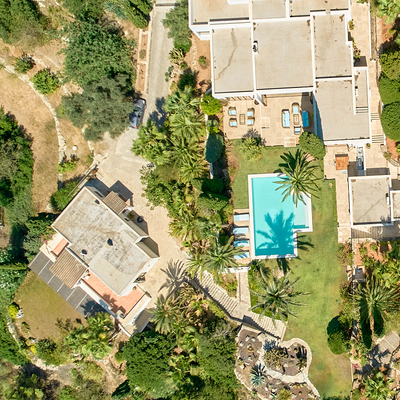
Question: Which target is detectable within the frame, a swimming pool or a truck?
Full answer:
It is a swimming pool that can be seen here.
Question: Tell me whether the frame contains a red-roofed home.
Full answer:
No, the photo shows no red-roofed home.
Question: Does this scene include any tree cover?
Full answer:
Yes, tree cover can be seen from above here.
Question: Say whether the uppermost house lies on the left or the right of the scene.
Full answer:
The uppermost house appears in the right half of the scene.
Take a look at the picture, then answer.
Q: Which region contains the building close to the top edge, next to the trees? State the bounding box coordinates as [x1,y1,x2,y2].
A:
[189,0,371,147]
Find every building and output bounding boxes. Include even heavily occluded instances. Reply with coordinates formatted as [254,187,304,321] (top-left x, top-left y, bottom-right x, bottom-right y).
[349,176,400,227]
[39,186,161,332]
[189,0,371,147]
